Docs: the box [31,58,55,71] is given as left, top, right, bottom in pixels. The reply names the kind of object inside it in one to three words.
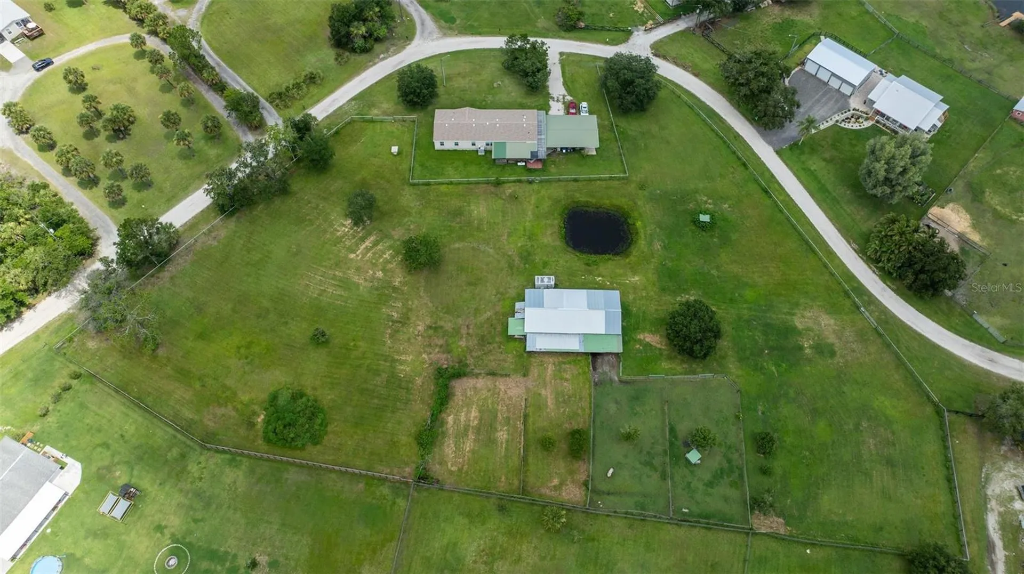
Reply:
vehicle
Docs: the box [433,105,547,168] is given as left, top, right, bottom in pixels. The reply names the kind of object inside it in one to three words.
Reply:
house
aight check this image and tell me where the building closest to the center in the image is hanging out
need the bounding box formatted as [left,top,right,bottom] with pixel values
[509,289,622,357]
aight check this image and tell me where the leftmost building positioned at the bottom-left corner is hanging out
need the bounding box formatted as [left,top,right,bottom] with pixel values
[0,435,77,567]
